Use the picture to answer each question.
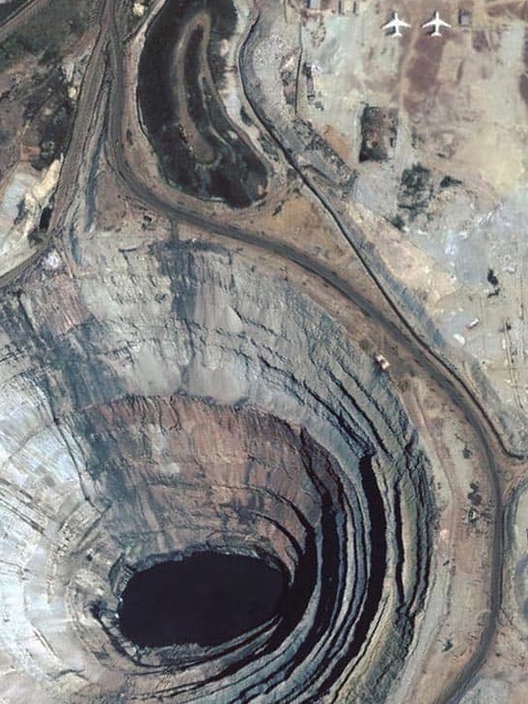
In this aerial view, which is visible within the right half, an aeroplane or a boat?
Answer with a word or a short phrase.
aeroplane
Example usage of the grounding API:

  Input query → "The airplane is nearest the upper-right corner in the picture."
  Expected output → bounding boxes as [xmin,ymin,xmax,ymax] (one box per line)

[424,12,450,36]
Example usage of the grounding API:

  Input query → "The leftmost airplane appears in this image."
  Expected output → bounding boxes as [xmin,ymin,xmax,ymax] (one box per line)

[384,12,411,37]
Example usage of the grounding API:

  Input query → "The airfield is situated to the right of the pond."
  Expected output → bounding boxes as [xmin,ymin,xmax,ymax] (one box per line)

[346,0,480,51]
